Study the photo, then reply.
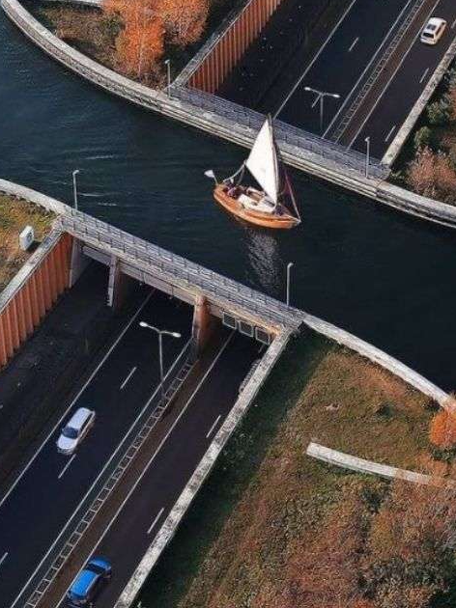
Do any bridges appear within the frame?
Yes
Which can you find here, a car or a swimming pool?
car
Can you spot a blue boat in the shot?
No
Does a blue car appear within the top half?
No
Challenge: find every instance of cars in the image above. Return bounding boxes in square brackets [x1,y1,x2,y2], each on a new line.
[57,410,94,456]
[67,558,107,608]
[421,19,446,46]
